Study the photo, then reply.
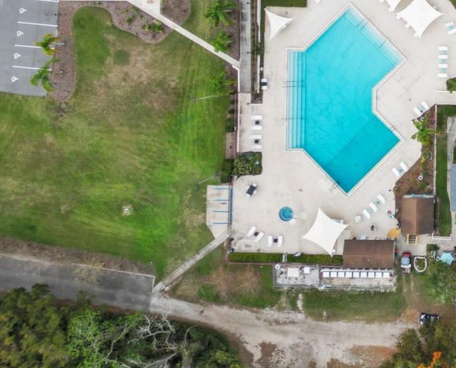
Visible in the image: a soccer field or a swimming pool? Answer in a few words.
swimming pool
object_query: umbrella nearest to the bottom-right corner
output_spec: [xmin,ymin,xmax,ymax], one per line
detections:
[440,251,454,264]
